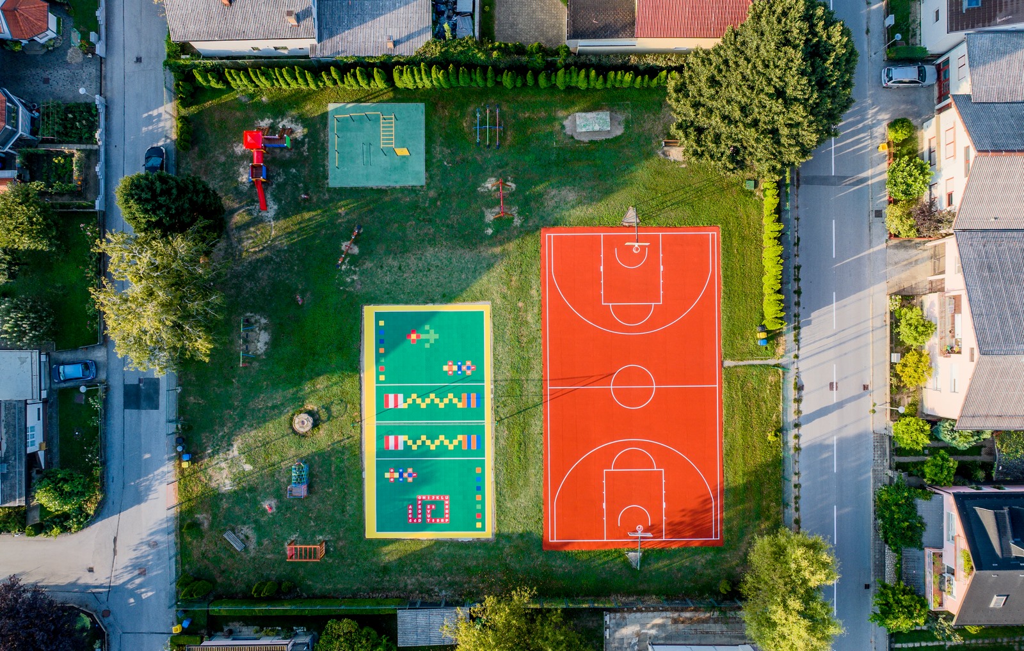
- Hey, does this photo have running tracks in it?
No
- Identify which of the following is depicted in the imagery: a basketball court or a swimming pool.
basketball court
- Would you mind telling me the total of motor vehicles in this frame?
3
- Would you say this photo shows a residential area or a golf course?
residential area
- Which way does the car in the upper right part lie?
horizontally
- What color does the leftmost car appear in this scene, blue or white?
blue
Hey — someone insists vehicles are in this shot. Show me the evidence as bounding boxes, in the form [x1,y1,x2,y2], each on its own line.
[881,61,937,89]
[52,359,99,384]
[142,147,169,175]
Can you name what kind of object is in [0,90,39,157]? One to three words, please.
house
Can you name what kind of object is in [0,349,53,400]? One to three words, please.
building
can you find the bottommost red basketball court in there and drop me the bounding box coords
[541,226,723,551]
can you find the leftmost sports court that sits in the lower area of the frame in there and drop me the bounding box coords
[360,302,496,542]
